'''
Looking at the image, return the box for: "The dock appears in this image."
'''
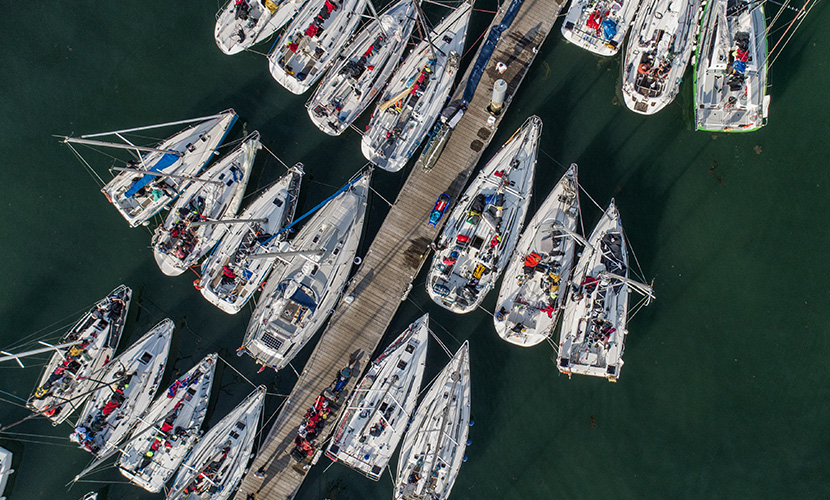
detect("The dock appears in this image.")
[234,0,567,500]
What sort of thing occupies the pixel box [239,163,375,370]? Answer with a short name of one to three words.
boat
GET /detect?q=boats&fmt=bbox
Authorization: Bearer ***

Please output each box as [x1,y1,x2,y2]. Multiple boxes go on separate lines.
[271,0,366,91]
[624,0,708,114]
[239,163,375,370]
[103,128,262,276]
[496,163,600,348]
[327,313,430,475]
[163,382,267,500]
[71,353,220,492]
[0,318,178,455]
[365,0,476,169]
[693,0,813,132]
[400,340,473,500]
[313,0,420,130]
[0,284,135,421]
[558,197,662,378]
[563,0,649,54]
[220,0,308,52]
[432,113,539,314]
[182,159,303,310]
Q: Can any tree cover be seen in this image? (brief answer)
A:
No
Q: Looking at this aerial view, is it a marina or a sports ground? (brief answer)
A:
marina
